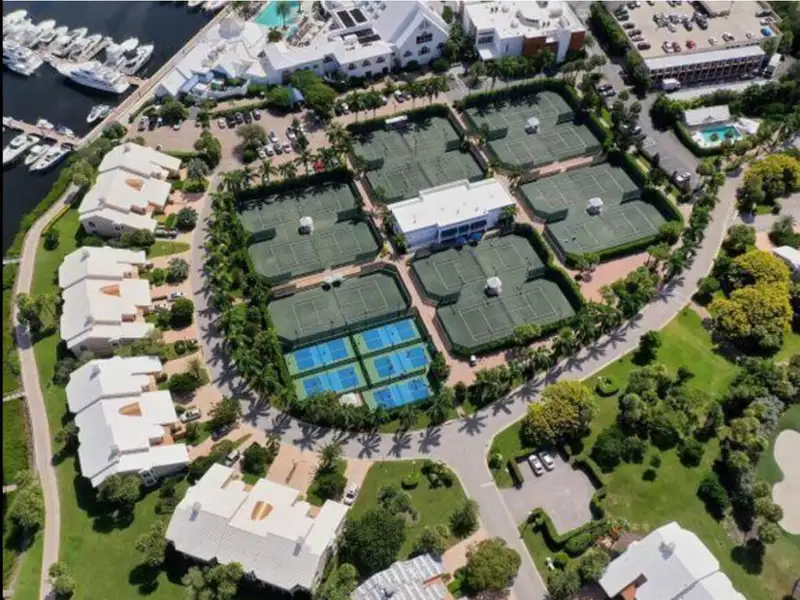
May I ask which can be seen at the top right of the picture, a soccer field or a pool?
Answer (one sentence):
It is a pool that can be seen at the top right of the picture.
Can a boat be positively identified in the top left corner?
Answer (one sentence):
Yes, a boat is visible in the top left corner.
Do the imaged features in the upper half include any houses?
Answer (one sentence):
Yes, a house appears in the upper half.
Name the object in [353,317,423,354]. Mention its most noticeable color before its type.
blue sports court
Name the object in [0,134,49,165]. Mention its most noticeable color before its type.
white boat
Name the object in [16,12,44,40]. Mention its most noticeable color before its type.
white boat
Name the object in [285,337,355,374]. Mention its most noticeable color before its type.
blue sports court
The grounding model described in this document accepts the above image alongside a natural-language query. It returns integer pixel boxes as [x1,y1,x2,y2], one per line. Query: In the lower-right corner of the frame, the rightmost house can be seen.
[598,521,748,600]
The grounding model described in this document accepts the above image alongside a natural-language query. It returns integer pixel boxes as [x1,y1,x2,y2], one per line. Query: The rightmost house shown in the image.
[771,246,800,279]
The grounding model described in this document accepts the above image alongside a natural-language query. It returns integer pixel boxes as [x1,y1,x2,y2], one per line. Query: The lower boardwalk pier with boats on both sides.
[0,112,80,145]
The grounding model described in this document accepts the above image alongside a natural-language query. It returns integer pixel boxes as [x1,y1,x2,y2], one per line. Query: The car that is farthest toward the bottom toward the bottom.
[343,484,359,505]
